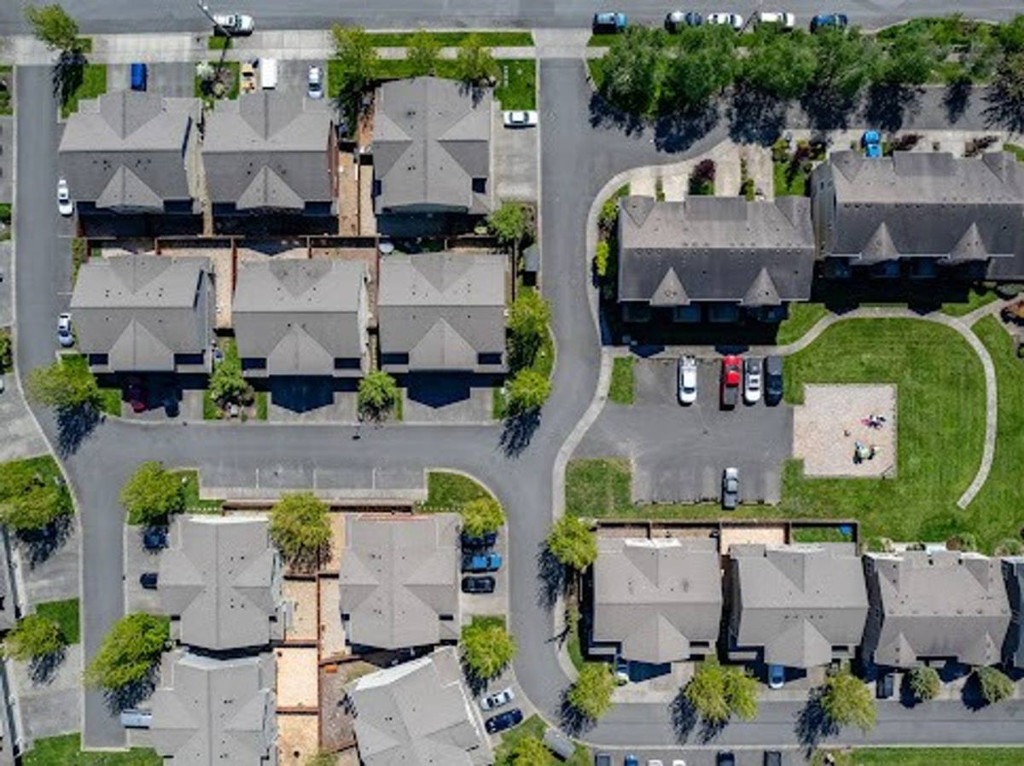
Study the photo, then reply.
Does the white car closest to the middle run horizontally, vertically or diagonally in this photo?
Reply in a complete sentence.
The white car closest to the middle has been laid out vertically relative to the frame.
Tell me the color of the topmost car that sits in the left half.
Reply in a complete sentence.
From above, the topmost car that sits in the left half appears white.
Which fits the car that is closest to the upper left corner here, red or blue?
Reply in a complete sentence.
The car that is closest to the upper left corner is blue.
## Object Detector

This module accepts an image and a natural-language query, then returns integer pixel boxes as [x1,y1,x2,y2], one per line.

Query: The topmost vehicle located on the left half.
[213,13,253,33]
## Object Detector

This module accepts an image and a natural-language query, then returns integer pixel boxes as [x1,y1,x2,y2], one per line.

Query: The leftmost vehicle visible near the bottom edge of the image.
[121,709,153,728]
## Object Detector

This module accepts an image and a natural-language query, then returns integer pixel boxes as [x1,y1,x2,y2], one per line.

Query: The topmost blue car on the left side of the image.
[128,58,149,93]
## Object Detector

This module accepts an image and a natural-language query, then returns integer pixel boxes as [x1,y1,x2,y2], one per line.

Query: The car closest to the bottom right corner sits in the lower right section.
[877,668,893,700]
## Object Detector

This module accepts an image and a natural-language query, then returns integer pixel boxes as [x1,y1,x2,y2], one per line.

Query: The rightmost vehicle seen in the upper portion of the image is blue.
[862,128,880,157]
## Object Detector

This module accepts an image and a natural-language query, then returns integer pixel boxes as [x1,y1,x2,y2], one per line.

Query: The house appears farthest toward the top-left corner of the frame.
[58,89,209,220]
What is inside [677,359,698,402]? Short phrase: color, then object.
white car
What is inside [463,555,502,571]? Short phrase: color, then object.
blue vehicle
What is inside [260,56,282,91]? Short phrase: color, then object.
white trailer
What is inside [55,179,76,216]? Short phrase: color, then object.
white car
